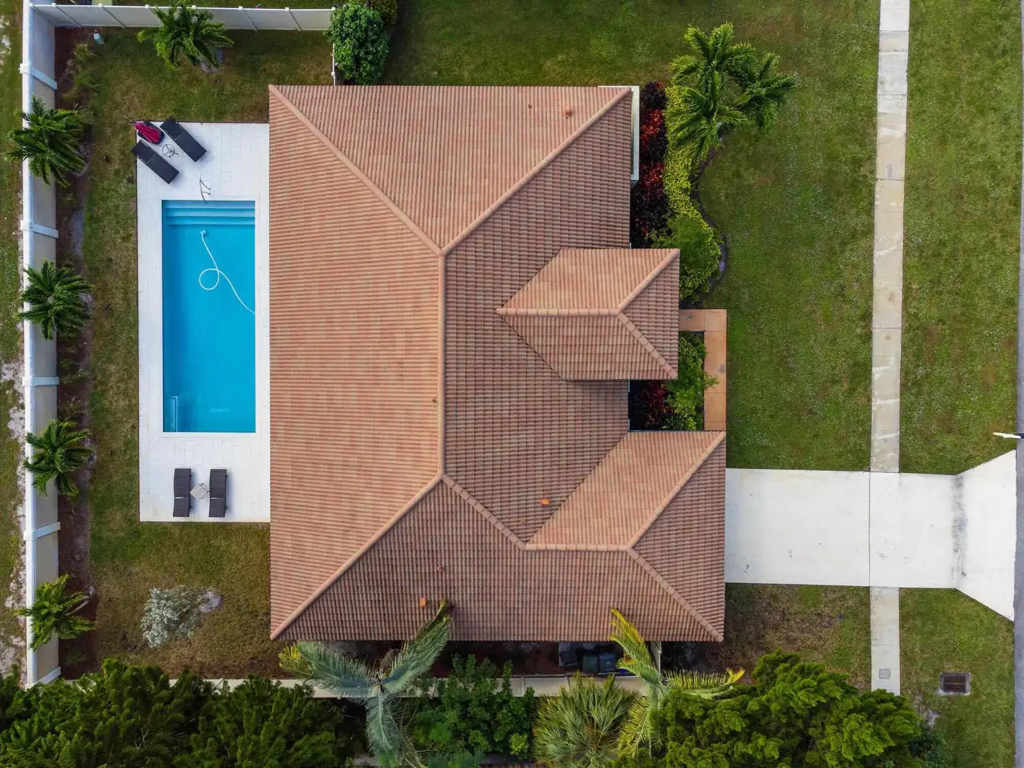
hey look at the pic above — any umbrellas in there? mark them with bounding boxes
[124,117,160,143]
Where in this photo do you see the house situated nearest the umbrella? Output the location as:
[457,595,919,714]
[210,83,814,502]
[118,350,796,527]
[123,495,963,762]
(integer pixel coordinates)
[265,84,728,643]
